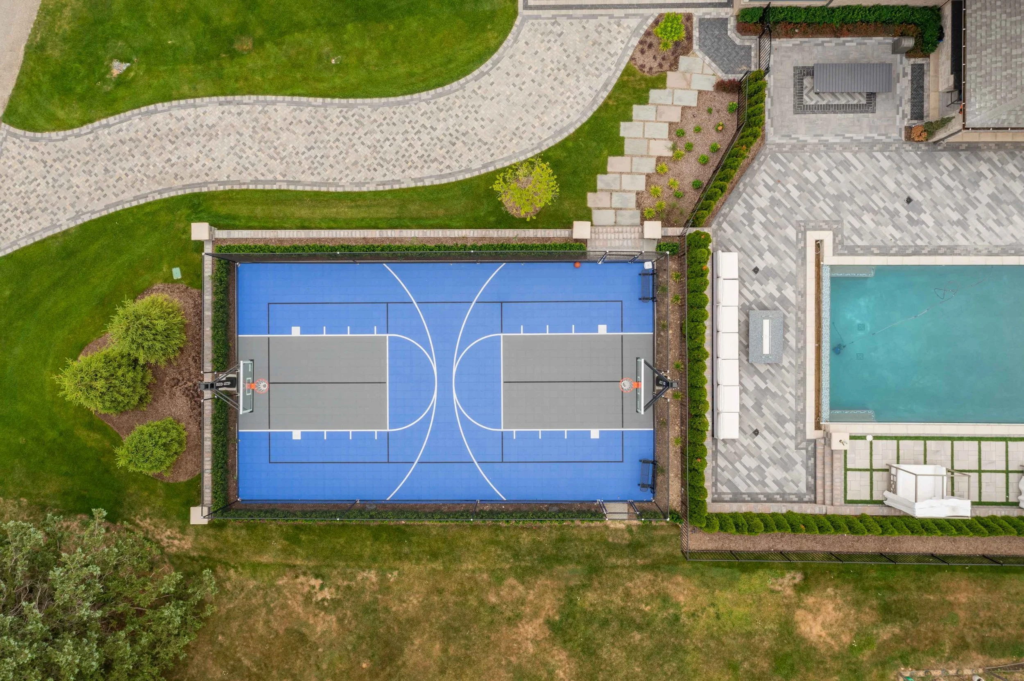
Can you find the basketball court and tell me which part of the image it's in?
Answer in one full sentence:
You can find the basketball court in the center area of the picture.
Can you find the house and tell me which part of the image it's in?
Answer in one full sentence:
The house is located in the top right region of the scene.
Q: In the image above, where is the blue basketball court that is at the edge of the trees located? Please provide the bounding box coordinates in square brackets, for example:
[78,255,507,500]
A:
[237,263,653,504]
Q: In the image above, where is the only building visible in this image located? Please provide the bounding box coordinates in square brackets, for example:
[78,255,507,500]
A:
[736,0,1024,142]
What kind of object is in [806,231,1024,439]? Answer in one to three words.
swimming pool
